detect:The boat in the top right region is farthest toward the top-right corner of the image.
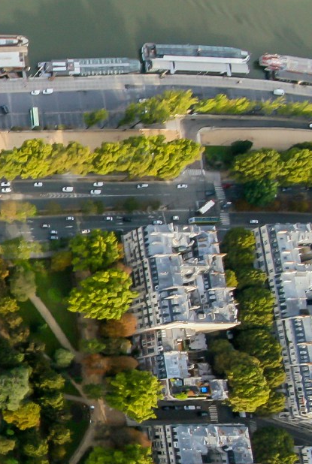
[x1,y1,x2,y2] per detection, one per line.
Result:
[257,54,312,76]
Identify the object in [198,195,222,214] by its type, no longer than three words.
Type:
vehicle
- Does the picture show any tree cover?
Yes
